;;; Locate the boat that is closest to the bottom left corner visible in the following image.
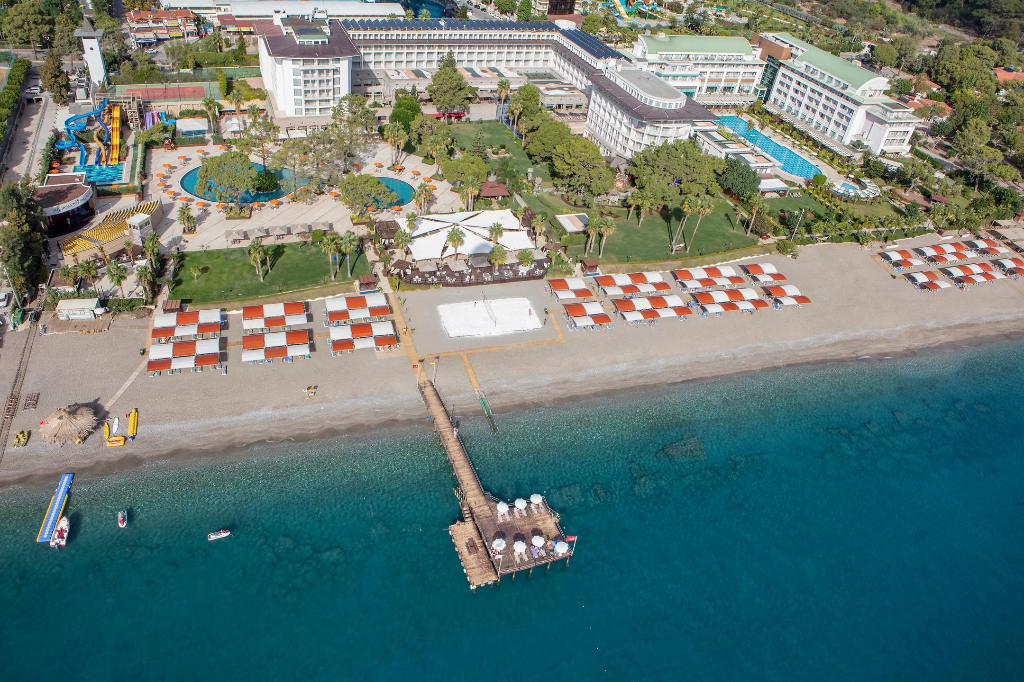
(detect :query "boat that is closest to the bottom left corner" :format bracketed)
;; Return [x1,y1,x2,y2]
[48,515,71,550]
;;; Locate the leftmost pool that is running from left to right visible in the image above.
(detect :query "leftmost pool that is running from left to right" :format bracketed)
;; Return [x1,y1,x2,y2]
[73,162,124,184]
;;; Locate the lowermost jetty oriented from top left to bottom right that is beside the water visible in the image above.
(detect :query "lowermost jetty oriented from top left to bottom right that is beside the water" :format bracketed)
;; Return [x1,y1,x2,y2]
[418,376,573,581]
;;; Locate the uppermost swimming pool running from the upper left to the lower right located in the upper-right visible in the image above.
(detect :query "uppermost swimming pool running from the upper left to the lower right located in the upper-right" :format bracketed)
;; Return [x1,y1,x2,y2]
[715,115,823,178]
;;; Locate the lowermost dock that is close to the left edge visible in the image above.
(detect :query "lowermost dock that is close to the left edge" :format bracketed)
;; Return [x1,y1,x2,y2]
[35,472,73,542]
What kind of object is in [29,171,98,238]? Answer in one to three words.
building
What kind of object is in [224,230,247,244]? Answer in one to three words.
umbrella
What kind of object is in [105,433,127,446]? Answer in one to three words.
boat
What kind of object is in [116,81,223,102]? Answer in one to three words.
tennis court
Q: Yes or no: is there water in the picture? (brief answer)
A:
Yes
